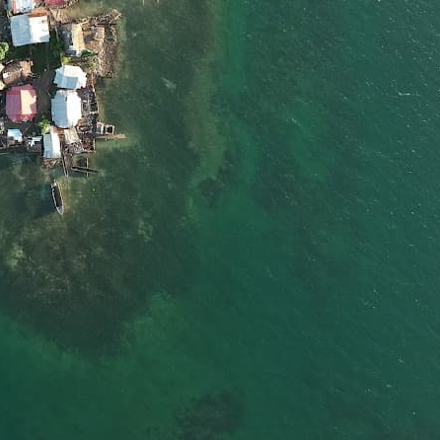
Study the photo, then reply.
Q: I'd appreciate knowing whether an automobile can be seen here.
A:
No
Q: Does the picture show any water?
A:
Yes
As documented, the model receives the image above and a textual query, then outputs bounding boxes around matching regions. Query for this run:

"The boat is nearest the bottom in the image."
[51,179,63,214]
